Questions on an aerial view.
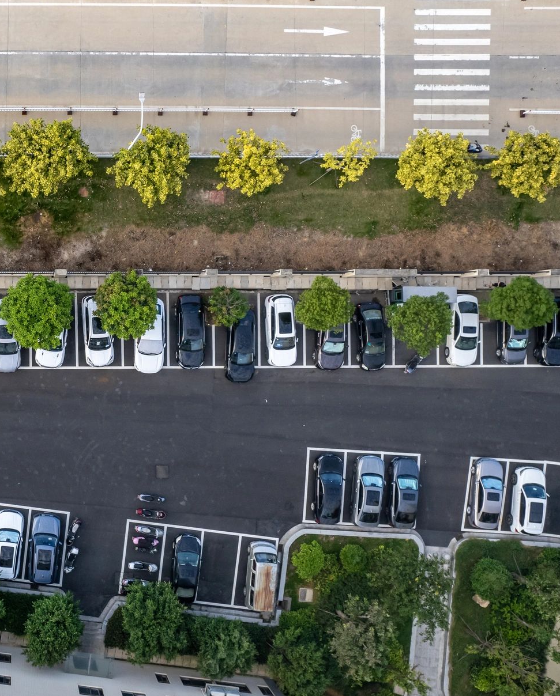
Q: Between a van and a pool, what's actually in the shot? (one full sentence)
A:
Of the two, only a van appears.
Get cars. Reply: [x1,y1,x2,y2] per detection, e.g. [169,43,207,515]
[176,294,210,370]
[351,454,390,528]
[352,302,392,371]
[0,324,24,374]
[314,319,351,370]
[533,296,560,367]
[81,295,118,368]
[507,466,553,535]
[494,302,535,365]
[387,456,426,529]
[310,452,349,525]
[29,511,64,585]
[444,295,484,368]
[134,298,167,374]
[224,309,260,383]
[33,316,67,369]
[0,509,26,581]
[170,532,205,603]
[263,294,302,368]
[466,456,509,530]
